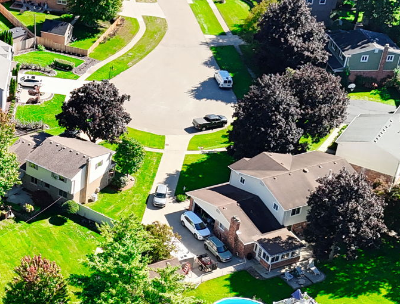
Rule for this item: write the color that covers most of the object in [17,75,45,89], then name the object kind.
white car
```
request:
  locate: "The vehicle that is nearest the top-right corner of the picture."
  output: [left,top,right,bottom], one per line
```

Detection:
[214,66,234,86]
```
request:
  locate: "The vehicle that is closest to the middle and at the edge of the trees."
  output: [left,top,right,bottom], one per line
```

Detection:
[192,114,232,132]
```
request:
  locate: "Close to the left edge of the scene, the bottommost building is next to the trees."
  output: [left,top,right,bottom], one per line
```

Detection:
[11,131,109,204]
